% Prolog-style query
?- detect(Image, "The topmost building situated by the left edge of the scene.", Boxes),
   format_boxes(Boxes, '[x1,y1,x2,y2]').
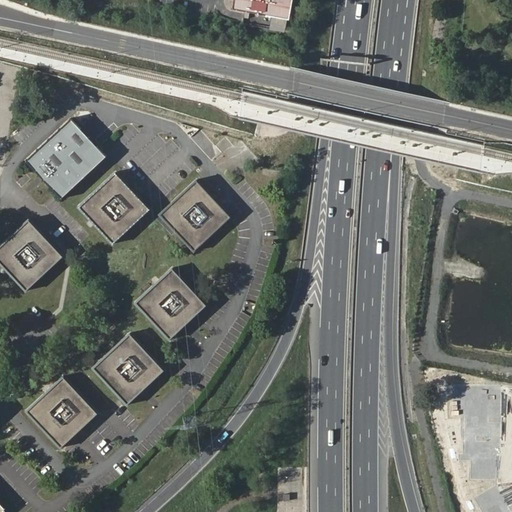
[24,120,106,198]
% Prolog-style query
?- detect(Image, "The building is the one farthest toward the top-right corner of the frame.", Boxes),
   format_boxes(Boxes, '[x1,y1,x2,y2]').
[232,0,292,34]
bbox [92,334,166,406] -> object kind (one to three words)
building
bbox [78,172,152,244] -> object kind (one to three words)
building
